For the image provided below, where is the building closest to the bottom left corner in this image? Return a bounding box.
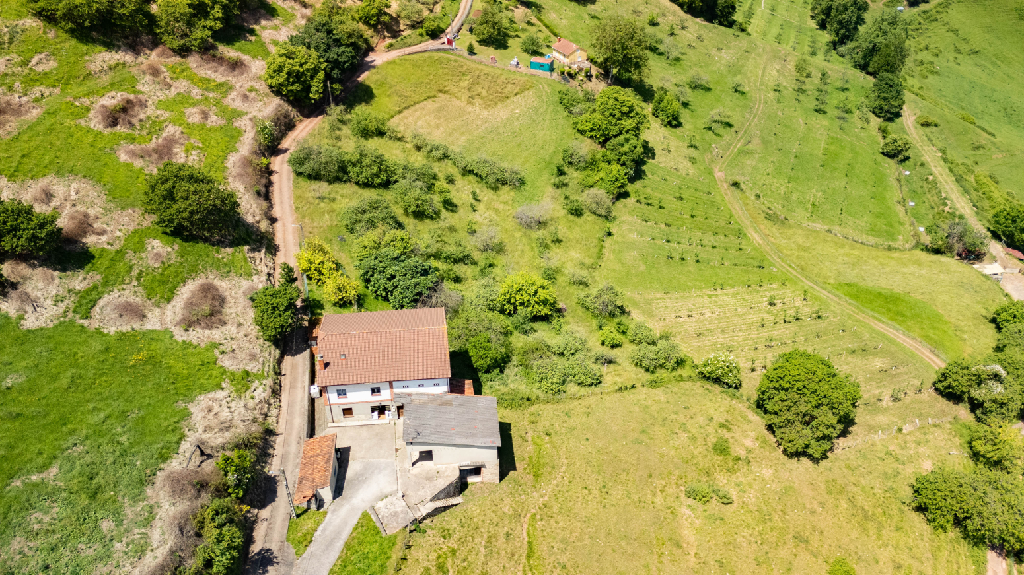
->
[294,432,338,517]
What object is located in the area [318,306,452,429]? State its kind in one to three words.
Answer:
house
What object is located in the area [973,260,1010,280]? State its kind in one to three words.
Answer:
shed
